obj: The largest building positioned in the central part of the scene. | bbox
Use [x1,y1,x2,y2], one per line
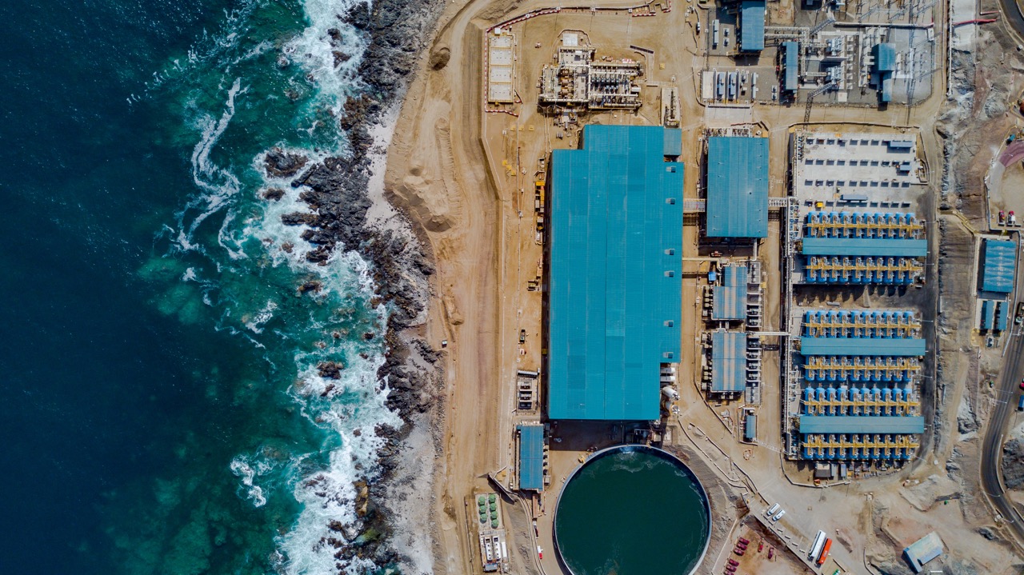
[547,125,684,420]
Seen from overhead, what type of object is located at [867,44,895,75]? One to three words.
house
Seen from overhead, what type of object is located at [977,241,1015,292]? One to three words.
building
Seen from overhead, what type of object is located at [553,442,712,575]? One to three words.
water tank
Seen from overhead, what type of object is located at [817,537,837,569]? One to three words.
bus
